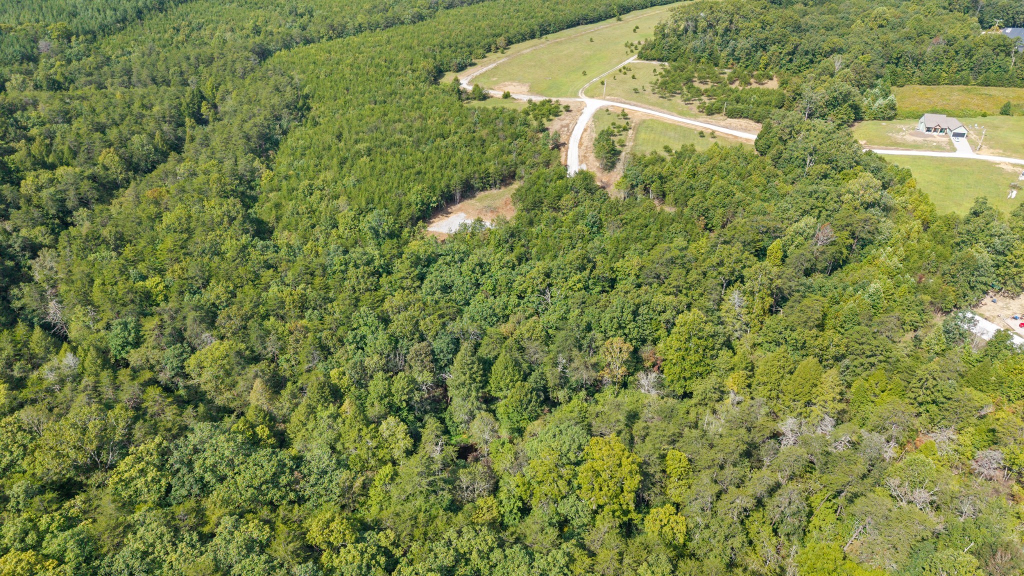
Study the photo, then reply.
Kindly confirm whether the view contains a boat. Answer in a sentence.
No, no boat is visible in the view.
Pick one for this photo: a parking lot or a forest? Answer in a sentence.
The picture captures a forest.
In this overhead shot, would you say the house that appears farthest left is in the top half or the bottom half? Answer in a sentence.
The house that appears farthest left sits in the top half of the picture.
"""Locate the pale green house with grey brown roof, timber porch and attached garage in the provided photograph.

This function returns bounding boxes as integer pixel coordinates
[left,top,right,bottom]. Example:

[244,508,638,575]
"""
[920,114,969,139]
